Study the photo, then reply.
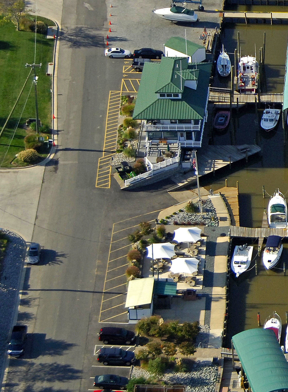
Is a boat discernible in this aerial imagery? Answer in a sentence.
Yes, a boat can be made out from above.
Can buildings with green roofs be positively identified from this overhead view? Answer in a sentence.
Yes, the frame does contain a building with a green roof.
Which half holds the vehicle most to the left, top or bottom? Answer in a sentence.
The vehicle most to the left is in the bottom half of the image.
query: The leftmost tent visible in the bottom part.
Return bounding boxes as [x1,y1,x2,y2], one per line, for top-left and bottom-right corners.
[143,243,178,262]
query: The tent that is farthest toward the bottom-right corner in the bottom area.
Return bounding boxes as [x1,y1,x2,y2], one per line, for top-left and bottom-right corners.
[167,258,202,276]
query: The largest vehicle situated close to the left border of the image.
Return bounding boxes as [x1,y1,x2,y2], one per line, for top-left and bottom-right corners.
[8,327,28,356]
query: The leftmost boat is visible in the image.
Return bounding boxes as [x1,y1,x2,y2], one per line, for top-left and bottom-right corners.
[150,5,200,24]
